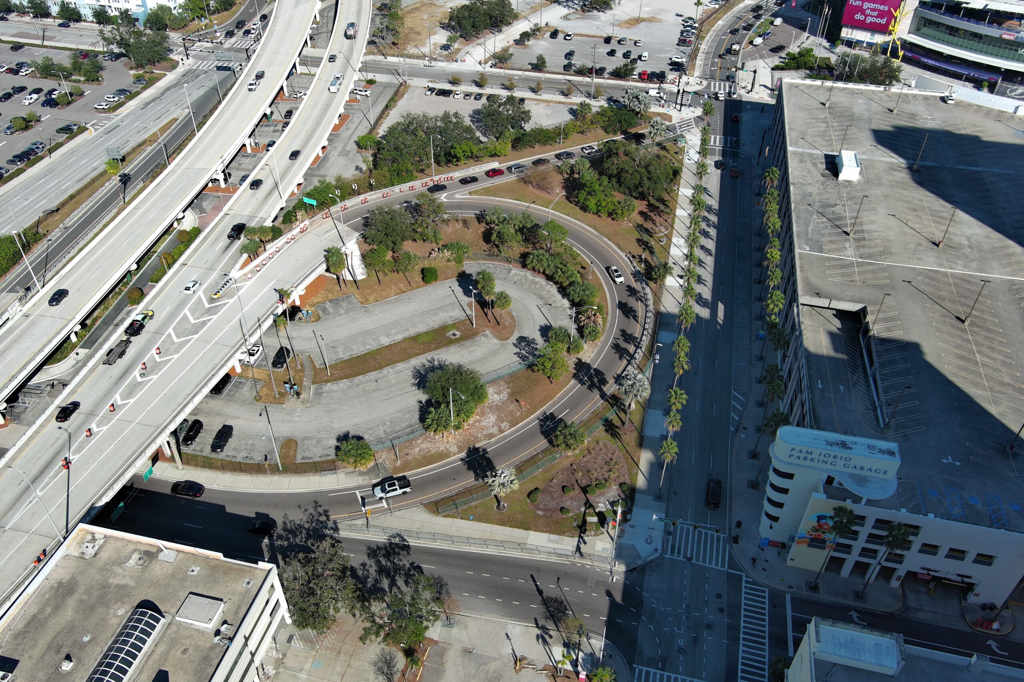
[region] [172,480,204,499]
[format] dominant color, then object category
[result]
black car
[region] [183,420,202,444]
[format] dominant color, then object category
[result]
black car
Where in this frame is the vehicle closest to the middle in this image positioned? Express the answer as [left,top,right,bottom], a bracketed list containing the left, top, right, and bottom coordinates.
[610,266,624,283]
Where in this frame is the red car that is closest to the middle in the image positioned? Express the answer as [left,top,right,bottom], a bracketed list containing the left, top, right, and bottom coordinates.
[485,166,505,179]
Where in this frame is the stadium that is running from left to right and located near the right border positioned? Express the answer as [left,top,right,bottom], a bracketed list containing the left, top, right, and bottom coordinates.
[822,0,1024,103]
